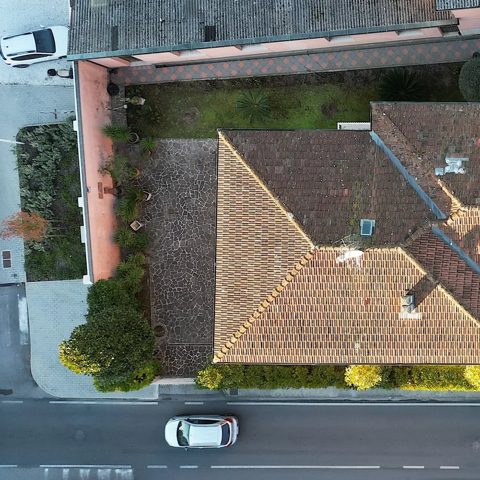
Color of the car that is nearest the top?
white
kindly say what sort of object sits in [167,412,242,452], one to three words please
car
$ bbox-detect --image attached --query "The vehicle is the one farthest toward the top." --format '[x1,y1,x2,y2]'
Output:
[0,23,79,70]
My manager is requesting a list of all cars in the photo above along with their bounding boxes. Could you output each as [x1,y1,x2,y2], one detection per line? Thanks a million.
[0,23,79,70]
[167,412,242,452]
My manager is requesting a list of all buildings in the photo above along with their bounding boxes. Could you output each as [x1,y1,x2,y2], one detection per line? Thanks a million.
[67,0,465,67]
[210,100,480,367]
